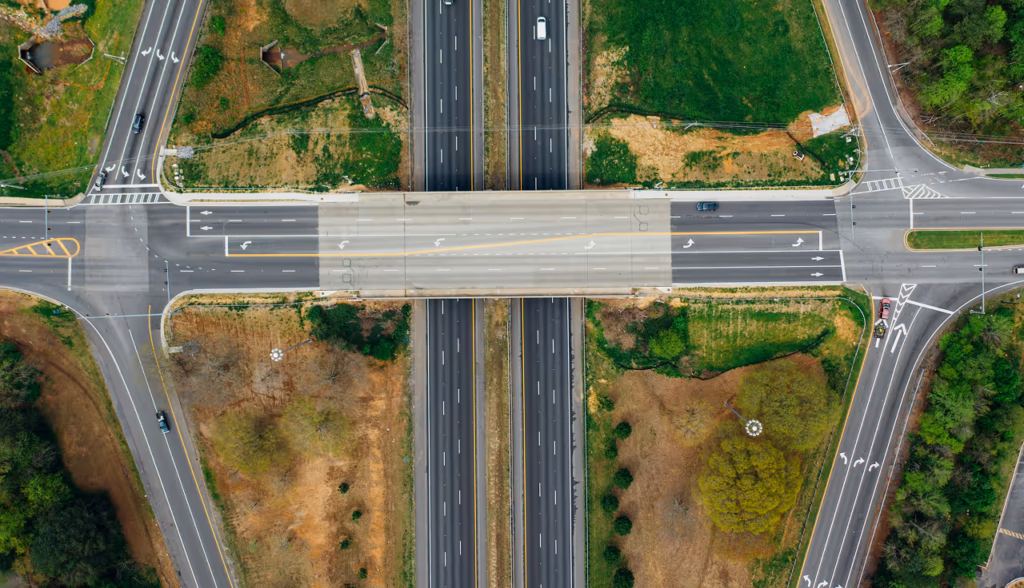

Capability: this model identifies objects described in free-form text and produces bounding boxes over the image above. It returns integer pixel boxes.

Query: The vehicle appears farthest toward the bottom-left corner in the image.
[155,410,171,434]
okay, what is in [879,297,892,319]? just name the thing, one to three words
vehicle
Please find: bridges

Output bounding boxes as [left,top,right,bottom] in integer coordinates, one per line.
[318,188,670,299]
